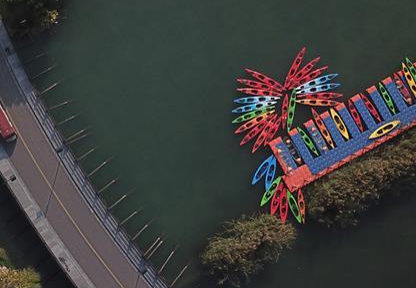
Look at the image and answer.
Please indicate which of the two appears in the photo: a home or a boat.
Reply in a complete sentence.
Looking from above, you can make out a boat.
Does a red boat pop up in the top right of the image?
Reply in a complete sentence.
Yes, a red boat shows up in the top right of the image.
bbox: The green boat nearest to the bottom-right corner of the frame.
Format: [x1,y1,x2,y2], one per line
[288,190,301,223]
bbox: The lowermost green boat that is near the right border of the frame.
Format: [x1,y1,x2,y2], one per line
[380,83,396,115]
